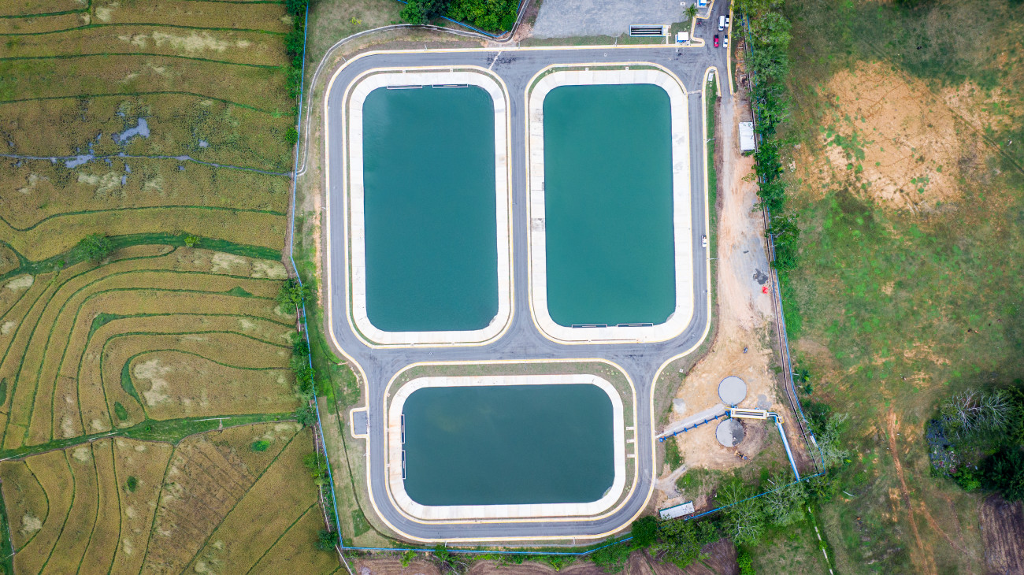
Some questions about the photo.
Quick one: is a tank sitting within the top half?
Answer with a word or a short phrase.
No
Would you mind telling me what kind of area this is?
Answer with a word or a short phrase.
farmland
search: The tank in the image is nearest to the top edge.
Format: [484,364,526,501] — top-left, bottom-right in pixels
[718,376,748,405]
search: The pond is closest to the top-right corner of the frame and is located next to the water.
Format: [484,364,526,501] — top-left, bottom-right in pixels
[530,70,690,341]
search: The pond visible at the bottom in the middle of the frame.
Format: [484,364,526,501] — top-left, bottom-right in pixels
[389,374,625,519]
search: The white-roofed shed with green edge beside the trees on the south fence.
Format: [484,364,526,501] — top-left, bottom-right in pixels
[659,502,695,523]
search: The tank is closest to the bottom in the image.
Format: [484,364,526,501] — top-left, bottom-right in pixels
[715,418,746,447]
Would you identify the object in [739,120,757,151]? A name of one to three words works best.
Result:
shed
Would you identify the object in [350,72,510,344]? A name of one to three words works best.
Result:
pond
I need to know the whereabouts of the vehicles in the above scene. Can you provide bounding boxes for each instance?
[723,34,729,48]
[734,447,750,460]
[702,235,708,248]
[714,34,720,47]
[725,14,730,28]
[719,16,725,30]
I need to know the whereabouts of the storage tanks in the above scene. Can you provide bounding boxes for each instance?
[718,376,748,405]
[715,418,746,447]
